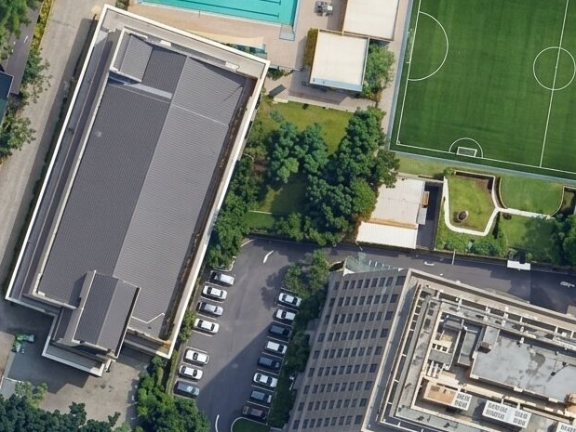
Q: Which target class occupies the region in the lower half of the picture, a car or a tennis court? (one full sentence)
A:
It is a car that can be seen in the lower half of the picture.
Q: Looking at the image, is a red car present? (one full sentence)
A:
No, there isn't any red car down there.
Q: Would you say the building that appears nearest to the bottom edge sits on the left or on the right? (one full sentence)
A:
The building that appears nearest to the bottom edge sits on the right side.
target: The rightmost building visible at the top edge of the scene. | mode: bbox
[341,0,399,42]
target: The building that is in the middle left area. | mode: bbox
[3,6,270,376]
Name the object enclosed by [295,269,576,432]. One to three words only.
building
